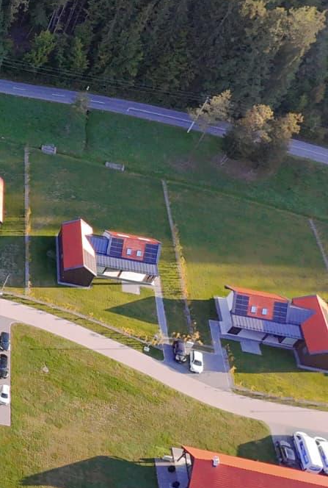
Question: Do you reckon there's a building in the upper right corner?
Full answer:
No, the scene shows no building in the upper right corner.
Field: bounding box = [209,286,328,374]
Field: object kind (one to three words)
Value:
house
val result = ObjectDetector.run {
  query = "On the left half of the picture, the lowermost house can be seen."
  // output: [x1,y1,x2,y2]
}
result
[55,219,161,295]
